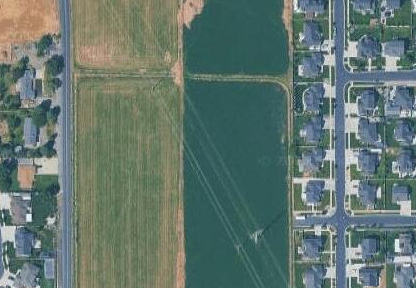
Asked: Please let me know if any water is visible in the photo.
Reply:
No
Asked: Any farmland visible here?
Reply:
Yes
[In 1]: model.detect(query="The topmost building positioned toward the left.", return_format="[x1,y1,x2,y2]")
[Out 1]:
[21,70,35,100]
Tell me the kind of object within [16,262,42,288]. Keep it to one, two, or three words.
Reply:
house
